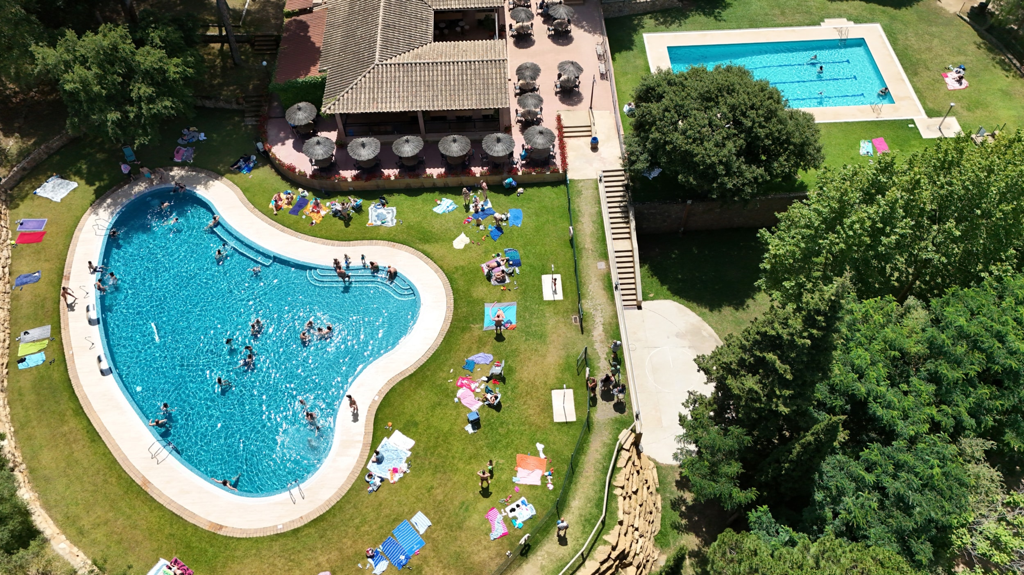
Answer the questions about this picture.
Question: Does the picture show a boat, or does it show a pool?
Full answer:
The image shows a pool.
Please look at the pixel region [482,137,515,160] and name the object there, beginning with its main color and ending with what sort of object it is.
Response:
gray umbrella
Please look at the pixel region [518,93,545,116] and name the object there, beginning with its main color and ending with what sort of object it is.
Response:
gray umbrella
